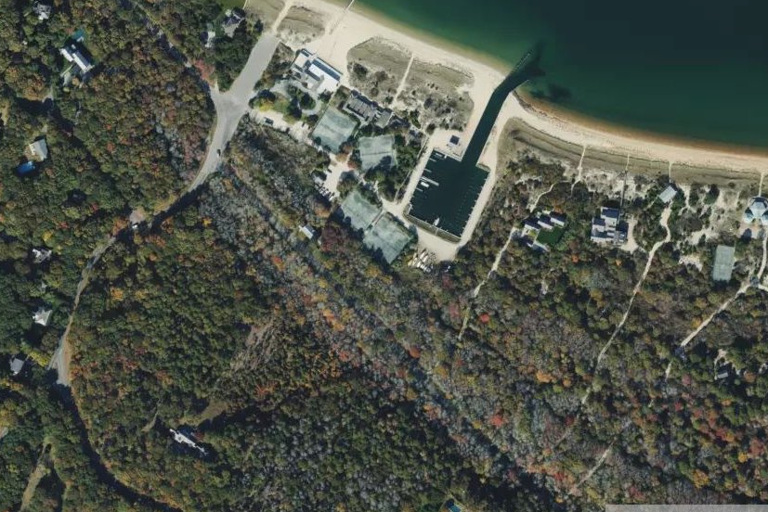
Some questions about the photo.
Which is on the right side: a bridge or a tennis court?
tennis court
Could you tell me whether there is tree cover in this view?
Yes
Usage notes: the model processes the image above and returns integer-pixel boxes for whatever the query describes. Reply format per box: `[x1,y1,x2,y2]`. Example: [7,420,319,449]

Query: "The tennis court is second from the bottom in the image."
[364,216,411,263]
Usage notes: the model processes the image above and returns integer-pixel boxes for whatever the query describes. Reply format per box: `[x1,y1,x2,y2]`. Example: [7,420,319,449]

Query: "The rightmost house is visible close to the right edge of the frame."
[742,198,768,224]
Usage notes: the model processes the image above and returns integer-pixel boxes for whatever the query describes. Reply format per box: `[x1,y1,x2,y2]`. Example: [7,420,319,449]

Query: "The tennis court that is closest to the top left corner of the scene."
[312,108,356,151]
